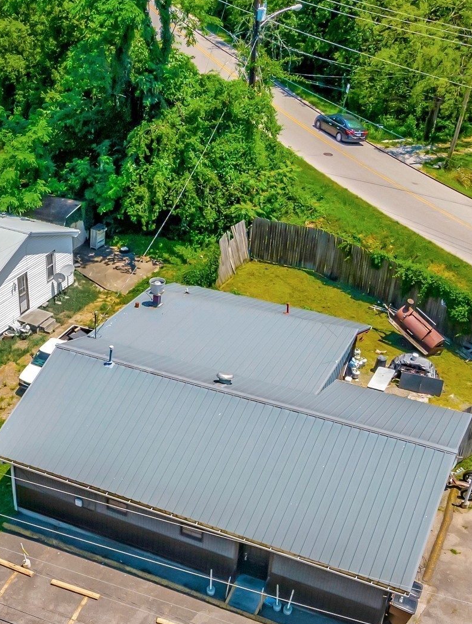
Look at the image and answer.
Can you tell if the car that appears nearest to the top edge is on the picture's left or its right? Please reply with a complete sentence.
The car that appears nearest to the top edge sits on the right side.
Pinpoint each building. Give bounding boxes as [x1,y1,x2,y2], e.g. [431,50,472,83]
[0,211,87,340]
[0,283,472,624]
